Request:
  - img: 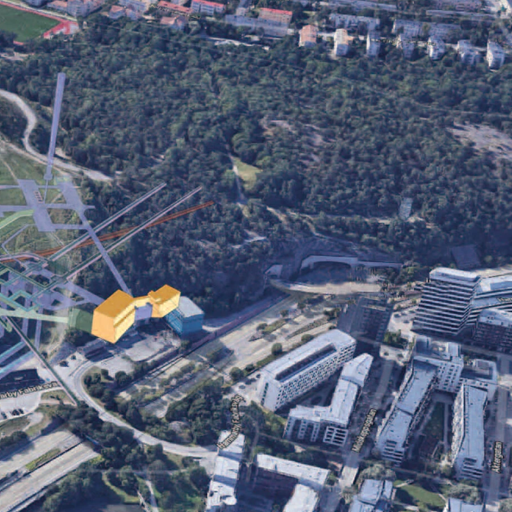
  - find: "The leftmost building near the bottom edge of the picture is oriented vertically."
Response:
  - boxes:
[206,432,245,512]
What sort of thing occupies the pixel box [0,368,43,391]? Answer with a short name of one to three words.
building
